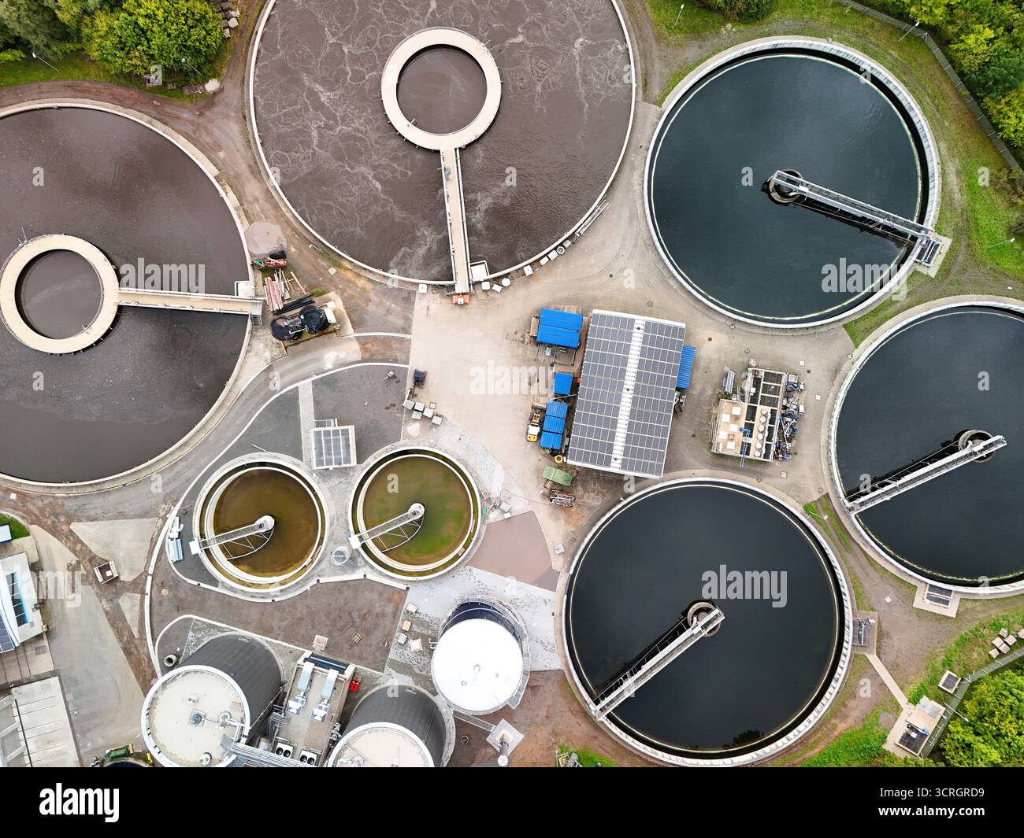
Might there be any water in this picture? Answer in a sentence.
Yes, there's water in this view.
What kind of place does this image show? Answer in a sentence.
This looks like an industrial area.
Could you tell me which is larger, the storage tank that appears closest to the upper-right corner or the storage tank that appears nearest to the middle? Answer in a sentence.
The storage tank that appears closest to the upper-right corner is larger than the storage tank that appears nearest to the middle.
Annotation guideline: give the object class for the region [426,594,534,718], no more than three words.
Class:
storage tank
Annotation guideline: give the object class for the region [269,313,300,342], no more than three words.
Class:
storage tank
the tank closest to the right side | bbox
[821,296,1024,597]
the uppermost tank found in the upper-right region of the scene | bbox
[637,35,938,336]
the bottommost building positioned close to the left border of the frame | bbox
[0,552,49,654]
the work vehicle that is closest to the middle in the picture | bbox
[525,402,546,445]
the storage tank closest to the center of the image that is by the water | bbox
[349,448,481,580]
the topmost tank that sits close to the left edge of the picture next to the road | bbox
[0,98,264,495]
